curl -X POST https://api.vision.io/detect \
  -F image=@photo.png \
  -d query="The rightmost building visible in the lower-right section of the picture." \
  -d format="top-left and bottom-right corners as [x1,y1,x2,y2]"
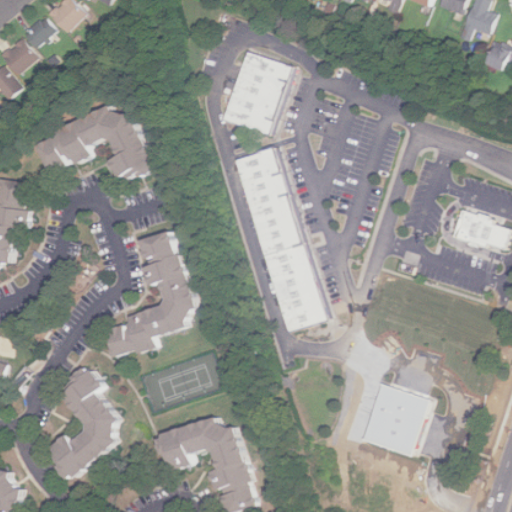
[363,386,440,458]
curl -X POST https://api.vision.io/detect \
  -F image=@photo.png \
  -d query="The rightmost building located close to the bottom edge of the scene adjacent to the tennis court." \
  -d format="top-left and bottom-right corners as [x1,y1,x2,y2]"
[155,414,259,512]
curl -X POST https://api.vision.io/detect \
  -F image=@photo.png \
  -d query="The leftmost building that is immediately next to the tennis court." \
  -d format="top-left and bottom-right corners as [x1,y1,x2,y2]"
[52,368,122,477]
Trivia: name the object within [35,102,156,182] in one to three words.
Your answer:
building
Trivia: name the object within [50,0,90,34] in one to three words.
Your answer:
house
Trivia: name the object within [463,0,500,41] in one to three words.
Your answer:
house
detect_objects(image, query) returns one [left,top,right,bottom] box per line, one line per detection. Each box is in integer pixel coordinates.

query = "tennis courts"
[140,351,220,414]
